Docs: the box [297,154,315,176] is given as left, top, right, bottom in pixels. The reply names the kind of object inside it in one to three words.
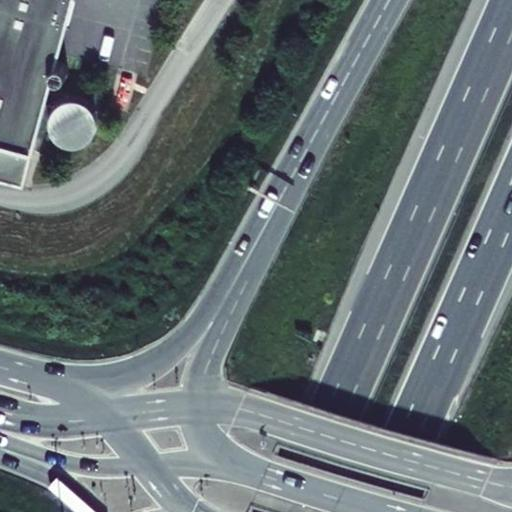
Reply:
car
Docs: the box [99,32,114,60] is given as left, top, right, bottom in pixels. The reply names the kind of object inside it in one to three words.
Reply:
vehicle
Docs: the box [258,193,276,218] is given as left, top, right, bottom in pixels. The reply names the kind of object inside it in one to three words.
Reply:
car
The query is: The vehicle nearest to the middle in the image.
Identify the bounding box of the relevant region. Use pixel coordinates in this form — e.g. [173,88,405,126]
[235,234,251,255]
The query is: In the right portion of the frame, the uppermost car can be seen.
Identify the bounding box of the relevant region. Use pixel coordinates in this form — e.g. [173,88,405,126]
[321,78,338,98]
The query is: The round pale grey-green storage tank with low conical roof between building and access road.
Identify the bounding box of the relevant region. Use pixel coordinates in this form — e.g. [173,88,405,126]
[48,98,100,150]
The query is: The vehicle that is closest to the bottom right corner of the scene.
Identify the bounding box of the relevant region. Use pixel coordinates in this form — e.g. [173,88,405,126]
[431,314,448,339]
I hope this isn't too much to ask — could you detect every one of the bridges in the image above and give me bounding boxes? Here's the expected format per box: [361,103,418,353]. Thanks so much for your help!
[218,380,512,512]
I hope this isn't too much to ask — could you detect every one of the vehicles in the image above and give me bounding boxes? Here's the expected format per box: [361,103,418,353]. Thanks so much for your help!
[0,396,18,408]
[0,455,20,467]
[321,78,338,98]
[0,437,6,446]
[79,460,100,471]
[502,192,512,214]
[235,234,251,255]
[99,32,114,60]
[20,422,41,433]
[258,193,276,218]
[297,154,315,176]
[465,232,482,256]
[46,454,66,466]
[45,364,66,374]
[431,314,448,339]
[114,72,131,106]
[288,136,305,157]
